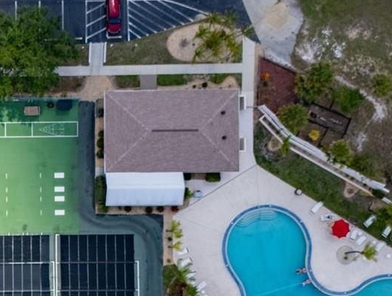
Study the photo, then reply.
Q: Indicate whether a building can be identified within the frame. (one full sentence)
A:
Yes, I can see a building in this picture.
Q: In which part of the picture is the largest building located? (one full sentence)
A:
The largest building sits in the center section of the image.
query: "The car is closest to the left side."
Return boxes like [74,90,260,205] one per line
[105,0,122,37]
